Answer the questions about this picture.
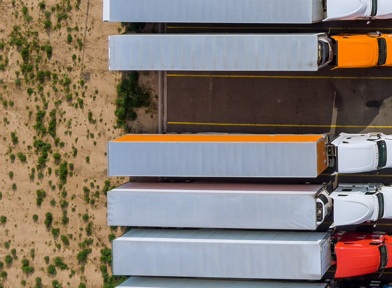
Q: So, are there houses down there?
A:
No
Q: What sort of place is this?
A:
parking lot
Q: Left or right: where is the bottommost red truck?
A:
right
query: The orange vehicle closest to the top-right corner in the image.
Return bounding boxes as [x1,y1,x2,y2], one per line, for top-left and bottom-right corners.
[329,31,392,73]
